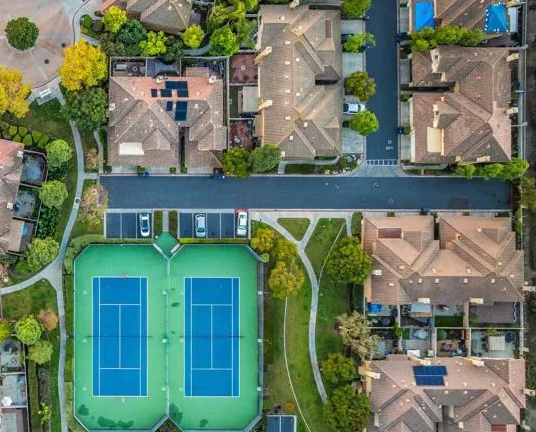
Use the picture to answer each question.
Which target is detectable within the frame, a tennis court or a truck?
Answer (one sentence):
Of the two, only a tennis court appears.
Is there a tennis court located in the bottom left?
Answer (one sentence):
Yes, a tennis court is visible in the bottom left.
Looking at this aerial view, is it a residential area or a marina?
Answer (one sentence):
This image shows a residential area.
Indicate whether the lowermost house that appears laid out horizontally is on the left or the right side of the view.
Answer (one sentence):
The lowermost house that appears laid out horizontally is on the right side of the image.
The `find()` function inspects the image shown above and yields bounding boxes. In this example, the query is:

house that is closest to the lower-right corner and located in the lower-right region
[357,352,535,432]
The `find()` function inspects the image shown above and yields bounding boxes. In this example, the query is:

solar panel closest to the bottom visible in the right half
[414,367,447,384]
